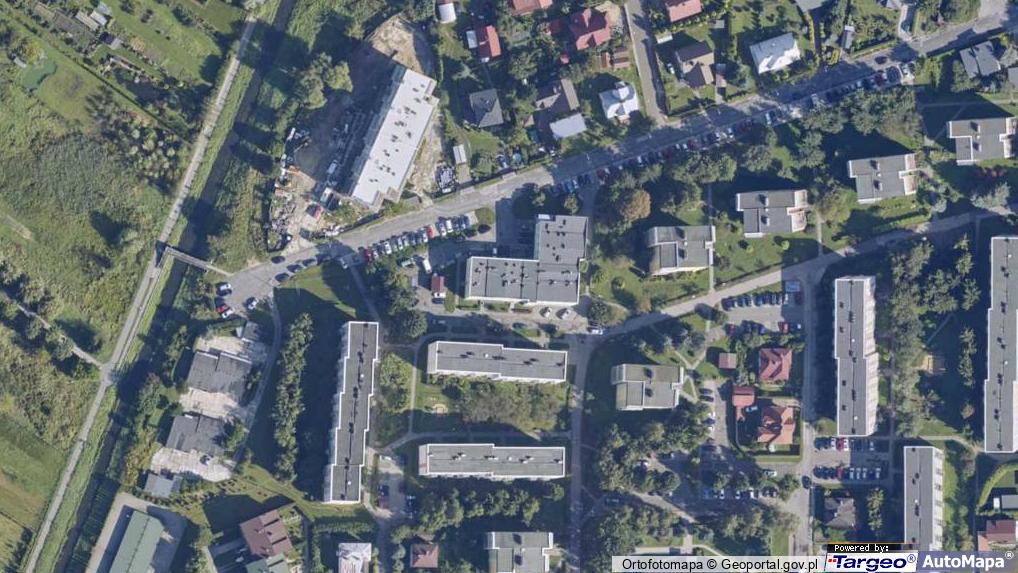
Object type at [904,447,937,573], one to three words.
building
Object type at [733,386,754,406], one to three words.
building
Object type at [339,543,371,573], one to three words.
house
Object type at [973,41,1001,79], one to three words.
house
